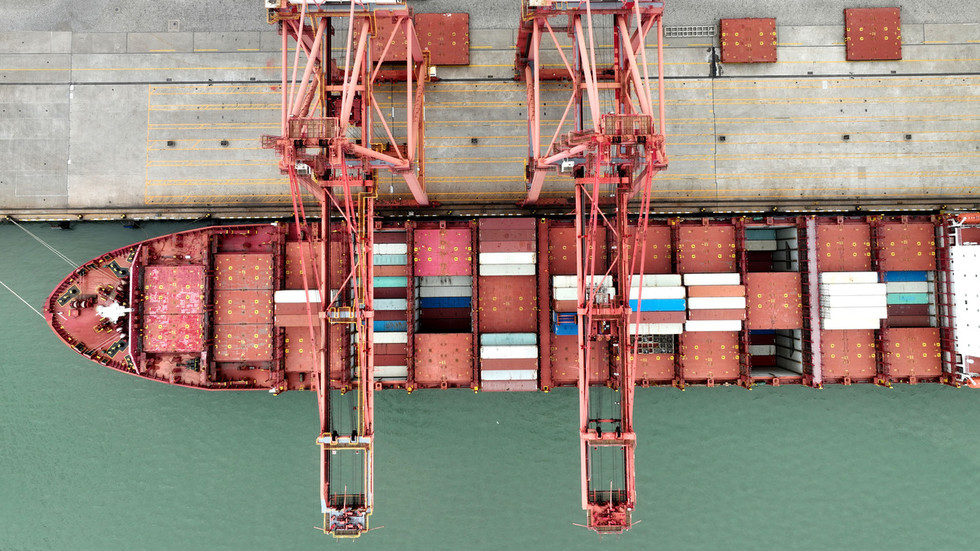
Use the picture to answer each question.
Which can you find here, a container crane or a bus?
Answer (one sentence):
Of the two, only a container crane appears.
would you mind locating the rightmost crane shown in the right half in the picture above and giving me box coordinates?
[505,0,674,540]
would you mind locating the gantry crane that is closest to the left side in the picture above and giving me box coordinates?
[259,0,449,542]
